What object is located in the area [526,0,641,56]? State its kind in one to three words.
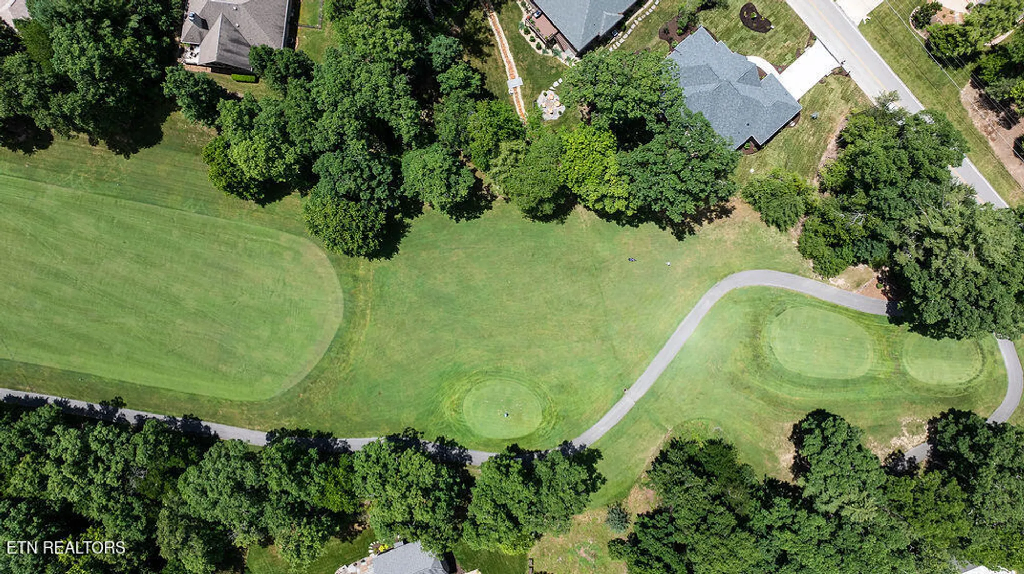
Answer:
house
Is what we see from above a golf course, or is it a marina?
golf course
